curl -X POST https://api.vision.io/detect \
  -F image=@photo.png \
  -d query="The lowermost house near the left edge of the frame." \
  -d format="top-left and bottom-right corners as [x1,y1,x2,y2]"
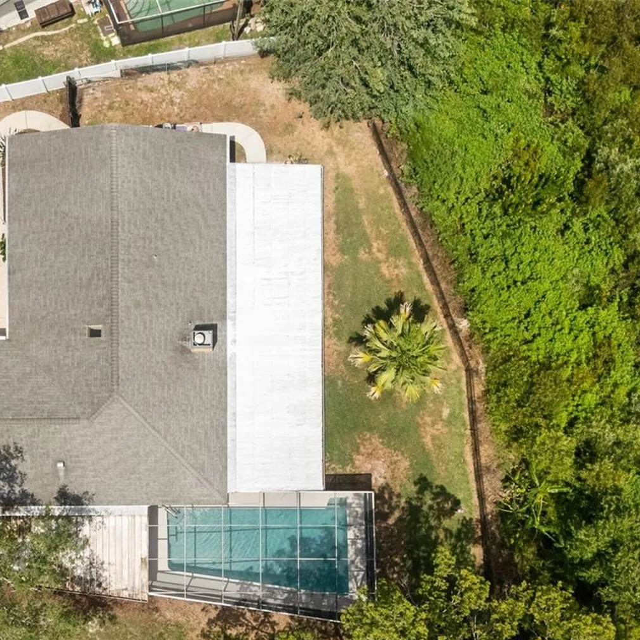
[0,124,229,507]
